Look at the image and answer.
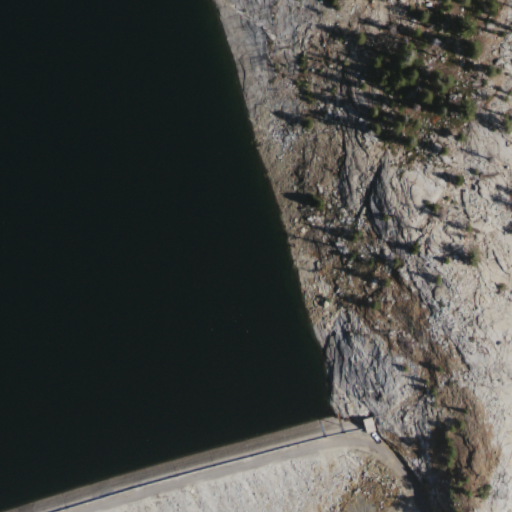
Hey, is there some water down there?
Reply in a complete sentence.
Yes, there's water in this view.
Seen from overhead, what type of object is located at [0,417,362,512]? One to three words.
dam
